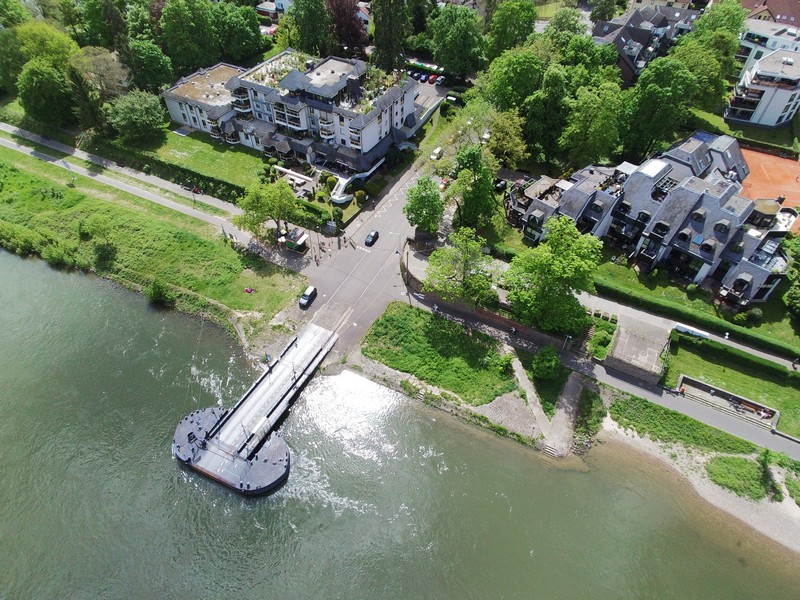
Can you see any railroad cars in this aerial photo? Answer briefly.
No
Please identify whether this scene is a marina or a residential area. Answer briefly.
residential area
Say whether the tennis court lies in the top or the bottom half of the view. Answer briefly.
top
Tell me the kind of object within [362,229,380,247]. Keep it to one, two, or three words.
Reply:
car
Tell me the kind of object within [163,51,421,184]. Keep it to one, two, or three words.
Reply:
building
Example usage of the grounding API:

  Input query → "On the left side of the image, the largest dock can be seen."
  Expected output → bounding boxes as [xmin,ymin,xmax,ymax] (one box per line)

[172,406,291,495]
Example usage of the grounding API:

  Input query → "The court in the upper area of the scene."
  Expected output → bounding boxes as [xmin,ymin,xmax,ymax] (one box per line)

[740,153,800,206]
